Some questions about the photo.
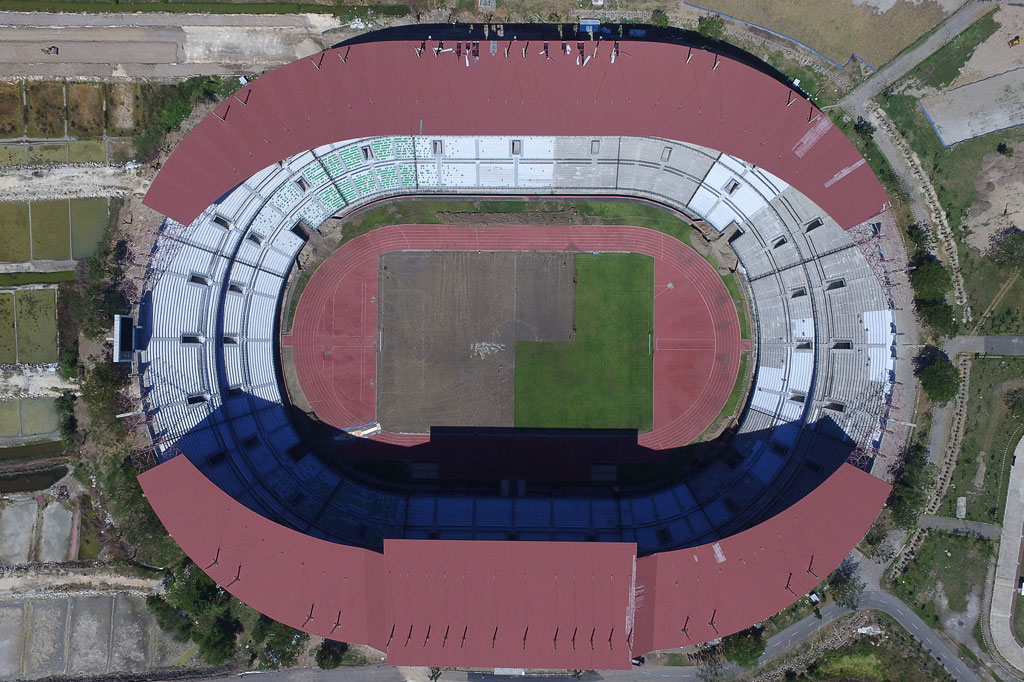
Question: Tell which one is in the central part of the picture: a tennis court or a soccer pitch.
soccer pitch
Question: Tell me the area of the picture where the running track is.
center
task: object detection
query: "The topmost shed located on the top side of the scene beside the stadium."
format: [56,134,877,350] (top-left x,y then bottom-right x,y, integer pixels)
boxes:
[580,18,600,36]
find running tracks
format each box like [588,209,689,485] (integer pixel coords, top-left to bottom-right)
[282,226,749,479]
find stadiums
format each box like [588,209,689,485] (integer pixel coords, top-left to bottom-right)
[112,41,920,669]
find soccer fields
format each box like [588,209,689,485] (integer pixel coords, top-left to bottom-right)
[376,251,654,434]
